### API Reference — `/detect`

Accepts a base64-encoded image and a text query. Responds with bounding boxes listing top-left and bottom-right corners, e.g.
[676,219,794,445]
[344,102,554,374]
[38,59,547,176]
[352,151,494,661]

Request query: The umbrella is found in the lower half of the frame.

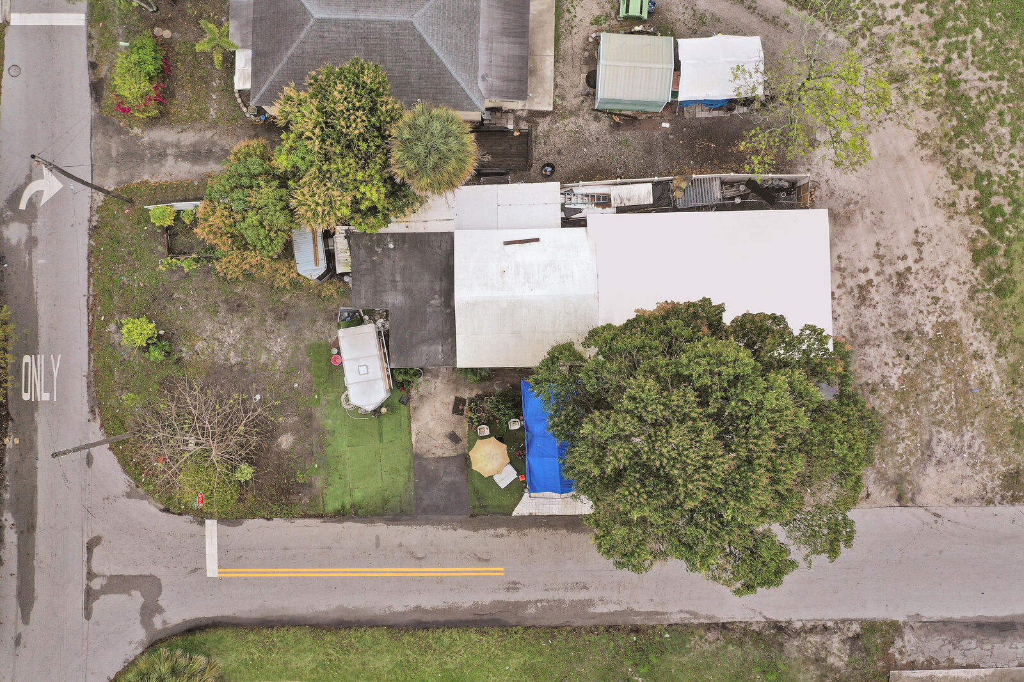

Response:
[468,437,510,478]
